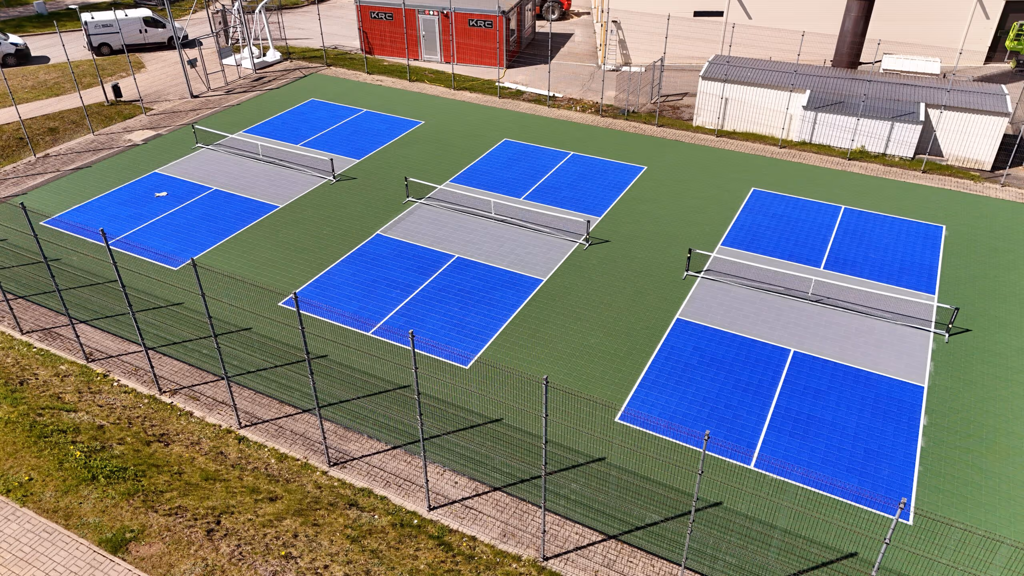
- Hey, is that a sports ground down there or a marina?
sports ground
